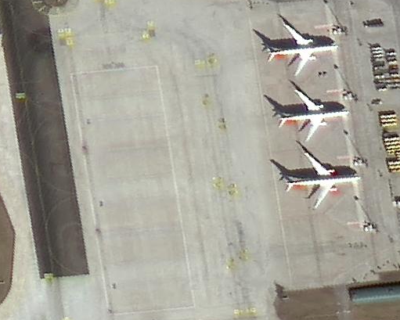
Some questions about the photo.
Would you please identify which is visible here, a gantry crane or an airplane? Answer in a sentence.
I can see an airplane in this picture.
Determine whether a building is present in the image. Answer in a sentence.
No, no building can be seen from above.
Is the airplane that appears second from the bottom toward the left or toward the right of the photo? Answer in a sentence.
You can find the airplane that appears second from the bottom on the right side of the picture.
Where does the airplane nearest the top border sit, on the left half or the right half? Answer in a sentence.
The airplane nearest the top border appears in the right half of the scene.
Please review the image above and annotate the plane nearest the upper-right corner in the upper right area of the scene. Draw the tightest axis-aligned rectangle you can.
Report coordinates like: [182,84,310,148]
[269,22,338,80]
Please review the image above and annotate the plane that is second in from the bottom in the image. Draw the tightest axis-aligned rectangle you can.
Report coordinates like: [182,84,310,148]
[281,88,350,146]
